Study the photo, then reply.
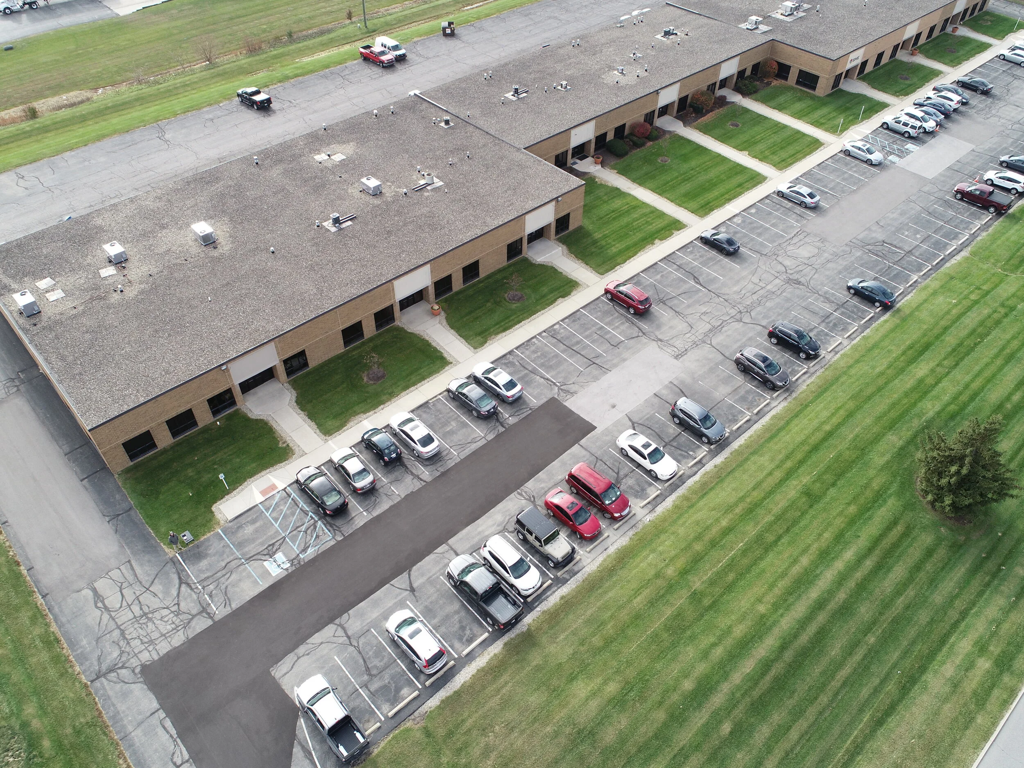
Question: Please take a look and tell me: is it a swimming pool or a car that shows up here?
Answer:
car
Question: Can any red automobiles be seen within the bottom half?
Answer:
Yes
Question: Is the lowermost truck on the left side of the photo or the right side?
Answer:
left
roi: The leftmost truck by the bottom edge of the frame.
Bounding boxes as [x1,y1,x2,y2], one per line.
[295,675,385,768]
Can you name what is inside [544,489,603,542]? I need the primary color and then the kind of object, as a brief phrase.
red car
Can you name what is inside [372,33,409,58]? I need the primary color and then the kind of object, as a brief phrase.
white vehicle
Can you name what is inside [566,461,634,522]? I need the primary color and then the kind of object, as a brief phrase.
red car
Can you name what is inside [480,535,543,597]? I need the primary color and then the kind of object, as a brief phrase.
white car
